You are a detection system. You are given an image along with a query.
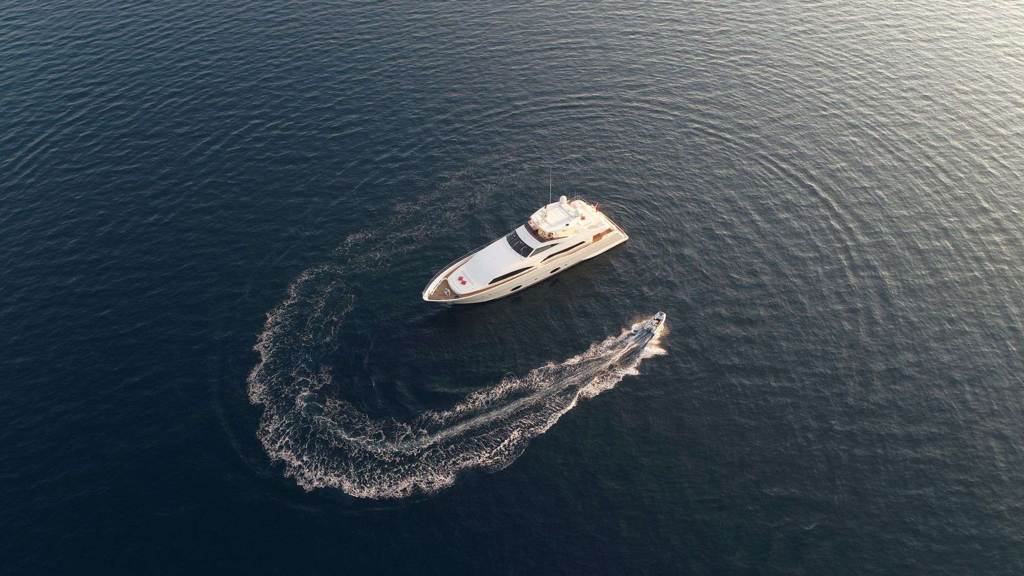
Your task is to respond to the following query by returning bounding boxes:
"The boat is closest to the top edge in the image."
[422,179,628,305]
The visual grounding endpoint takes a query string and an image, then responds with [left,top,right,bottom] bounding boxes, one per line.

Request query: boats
[422,179,628,305]
[642,310,666,336]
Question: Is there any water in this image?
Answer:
Yes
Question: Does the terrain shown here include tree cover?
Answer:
No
